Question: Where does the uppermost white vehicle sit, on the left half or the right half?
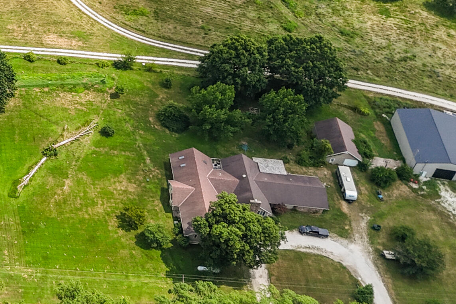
right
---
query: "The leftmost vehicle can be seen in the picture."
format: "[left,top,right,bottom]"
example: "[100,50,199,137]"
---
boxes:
[296,222,330,238]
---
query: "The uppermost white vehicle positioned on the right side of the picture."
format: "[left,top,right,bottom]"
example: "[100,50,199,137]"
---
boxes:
[336,164,360,205]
